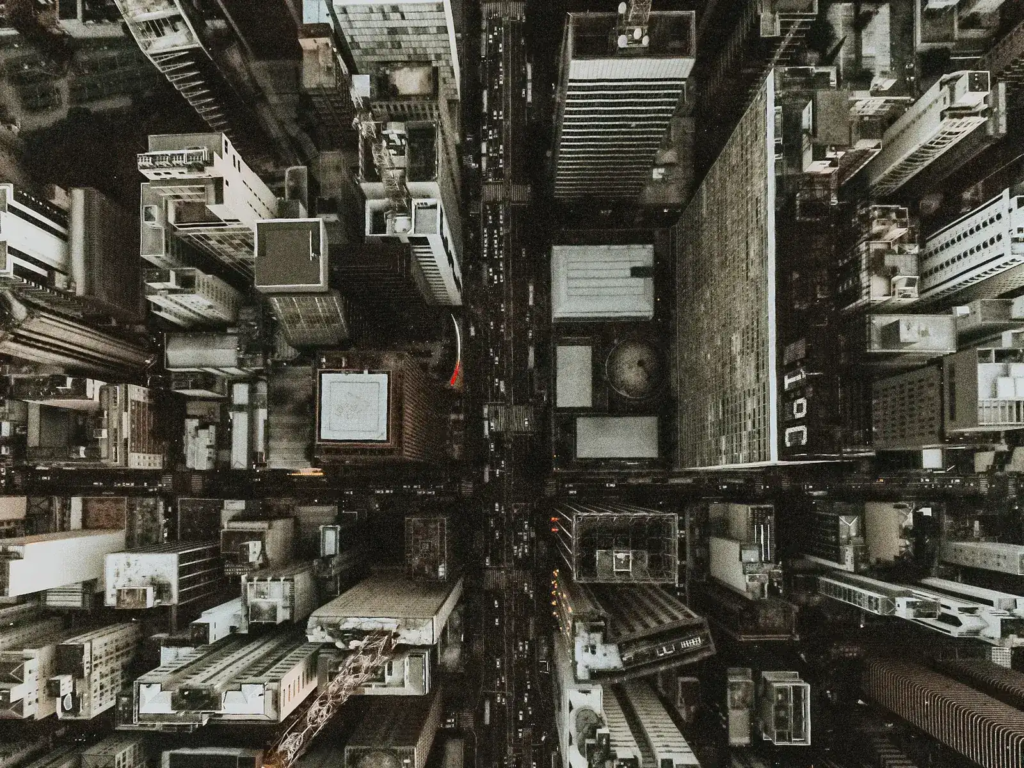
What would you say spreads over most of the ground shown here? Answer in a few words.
buildings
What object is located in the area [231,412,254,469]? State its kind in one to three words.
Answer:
building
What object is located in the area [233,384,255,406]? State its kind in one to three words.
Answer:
shed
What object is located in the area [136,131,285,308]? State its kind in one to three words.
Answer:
building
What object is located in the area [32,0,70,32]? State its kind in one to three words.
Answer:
house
